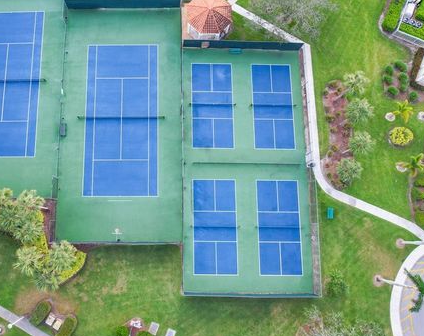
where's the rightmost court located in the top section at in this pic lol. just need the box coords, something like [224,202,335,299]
[243,49,306,164]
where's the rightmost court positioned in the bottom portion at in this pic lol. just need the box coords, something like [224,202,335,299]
[245,164,313,294]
